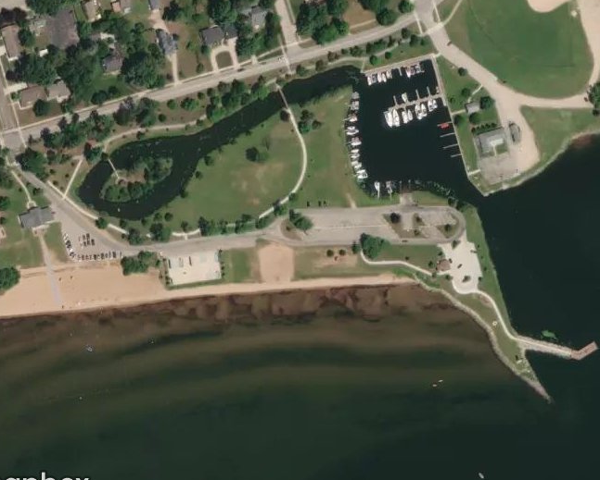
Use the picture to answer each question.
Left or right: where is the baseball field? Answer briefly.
right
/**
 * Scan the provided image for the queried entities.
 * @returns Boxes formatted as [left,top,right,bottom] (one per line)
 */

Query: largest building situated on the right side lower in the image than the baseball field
[477,127,504,157]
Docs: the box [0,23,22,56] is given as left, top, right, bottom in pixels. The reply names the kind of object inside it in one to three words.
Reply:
house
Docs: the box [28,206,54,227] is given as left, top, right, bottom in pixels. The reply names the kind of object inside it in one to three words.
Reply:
house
